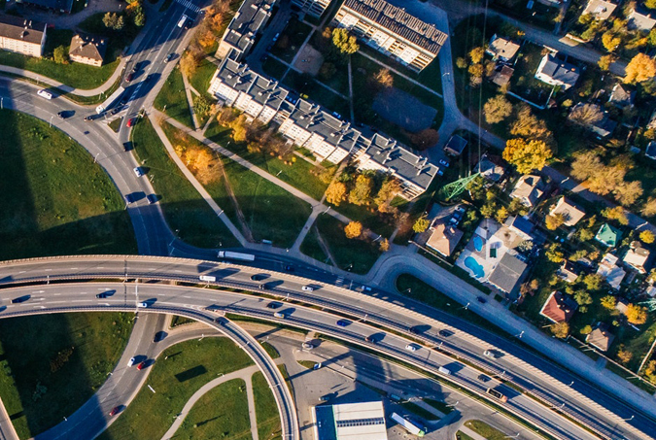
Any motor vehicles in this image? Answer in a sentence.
Yes, I can see a motor vehicle in this picture.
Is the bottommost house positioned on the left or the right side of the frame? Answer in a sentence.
You can find the bottommost house on the right side of the picture.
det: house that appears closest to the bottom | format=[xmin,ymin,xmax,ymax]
[579,323,616,357]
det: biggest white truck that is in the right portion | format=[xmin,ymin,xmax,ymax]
[391,412,424,437]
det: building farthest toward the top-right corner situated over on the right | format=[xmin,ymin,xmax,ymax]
[623,9,656,36]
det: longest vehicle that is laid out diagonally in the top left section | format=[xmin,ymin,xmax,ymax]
[97,85,124,112]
